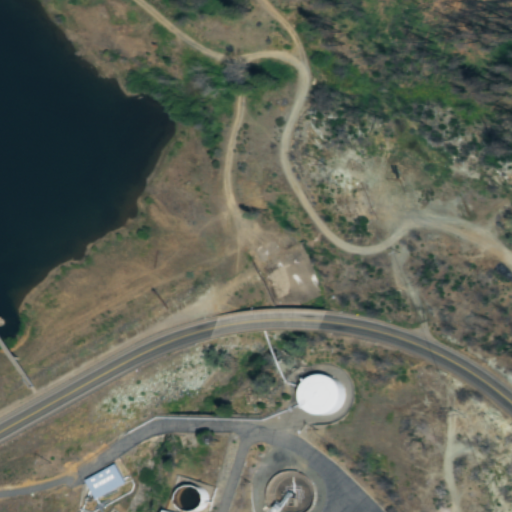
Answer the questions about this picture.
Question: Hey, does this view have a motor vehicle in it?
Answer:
No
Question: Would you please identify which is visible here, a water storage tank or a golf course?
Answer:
water storage tank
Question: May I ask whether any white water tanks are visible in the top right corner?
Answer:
No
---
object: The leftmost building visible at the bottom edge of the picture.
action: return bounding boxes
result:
[86,464,126,500]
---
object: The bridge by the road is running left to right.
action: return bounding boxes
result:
[212,309,326,338]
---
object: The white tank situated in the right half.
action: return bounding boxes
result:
[297,372,346,418]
